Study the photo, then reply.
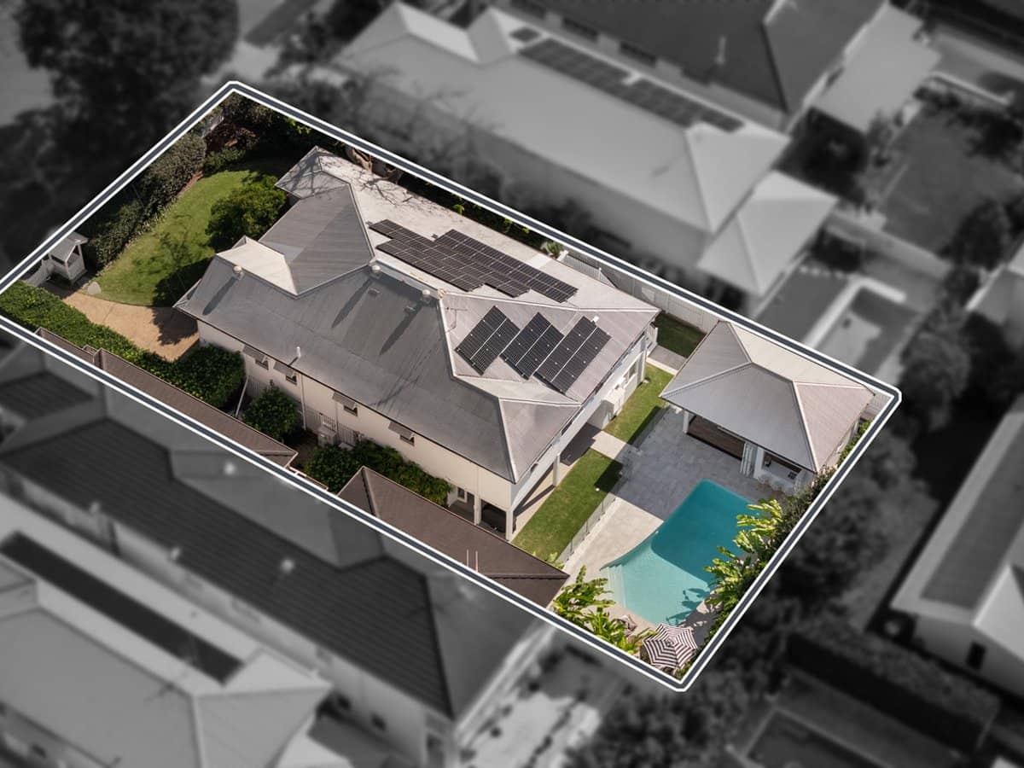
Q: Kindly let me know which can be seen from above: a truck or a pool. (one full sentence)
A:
Visible in the photo is a pool.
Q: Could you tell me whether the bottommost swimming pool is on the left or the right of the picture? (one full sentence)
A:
The bottommost swimming pool appears in the right half of the scene.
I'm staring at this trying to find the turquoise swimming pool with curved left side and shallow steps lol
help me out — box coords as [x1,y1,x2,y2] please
[595,475,779,628]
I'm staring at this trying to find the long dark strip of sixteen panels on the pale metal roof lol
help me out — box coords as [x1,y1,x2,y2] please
[0,530,238,672]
